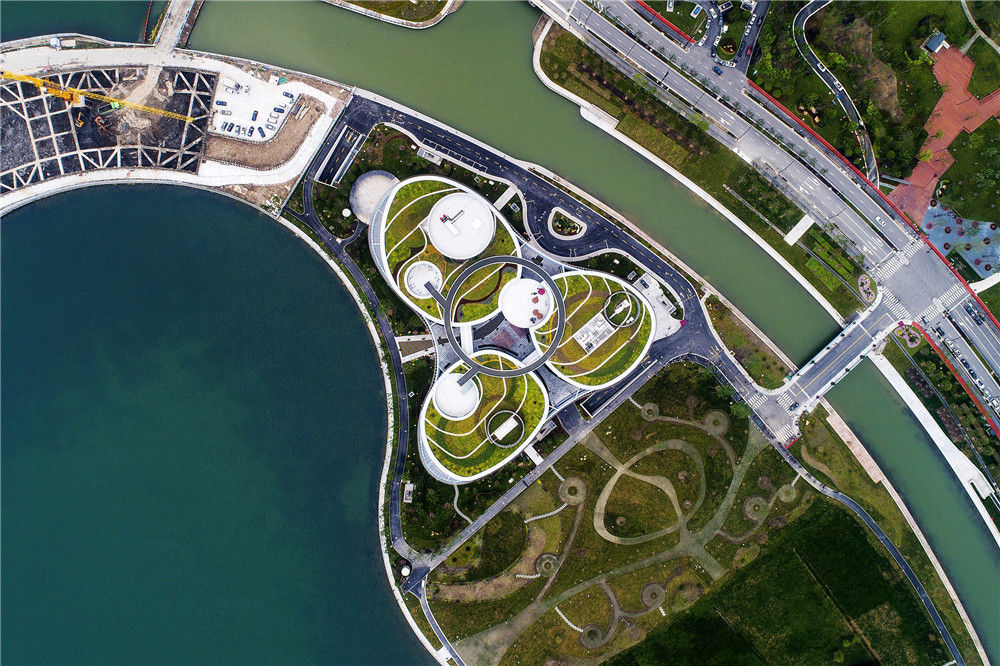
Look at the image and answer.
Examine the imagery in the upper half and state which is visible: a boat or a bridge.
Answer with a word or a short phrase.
bridge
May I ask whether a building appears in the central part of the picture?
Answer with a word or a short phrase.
Yes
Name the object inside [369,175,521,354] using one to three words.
building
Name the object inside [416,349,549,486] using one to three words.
building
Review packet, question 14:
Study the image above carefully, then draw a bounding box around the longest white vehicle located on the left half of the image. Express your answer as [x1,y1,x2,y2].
[219,76,239,89]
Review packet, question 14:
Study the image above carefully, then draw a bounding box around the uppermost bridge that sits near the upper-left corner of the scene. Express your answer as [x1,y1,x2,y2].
[153,0,203,48]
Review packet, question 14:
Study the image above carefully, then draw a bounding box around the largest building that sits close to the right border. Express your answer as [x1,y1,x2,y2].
[921,29,951,54]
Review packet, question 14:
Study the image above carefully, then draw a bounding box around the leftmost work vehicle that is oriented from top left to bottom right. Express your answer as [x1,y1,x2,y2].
[92,113,108,133]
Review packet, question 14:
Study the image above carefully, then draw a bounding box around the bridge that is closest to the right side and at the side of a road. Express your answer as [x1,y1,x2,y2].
[796,312,887,413]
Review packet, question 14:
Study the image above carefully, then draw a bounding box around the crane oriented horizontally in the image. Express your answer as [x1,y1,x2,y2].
[0,65,193,123]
